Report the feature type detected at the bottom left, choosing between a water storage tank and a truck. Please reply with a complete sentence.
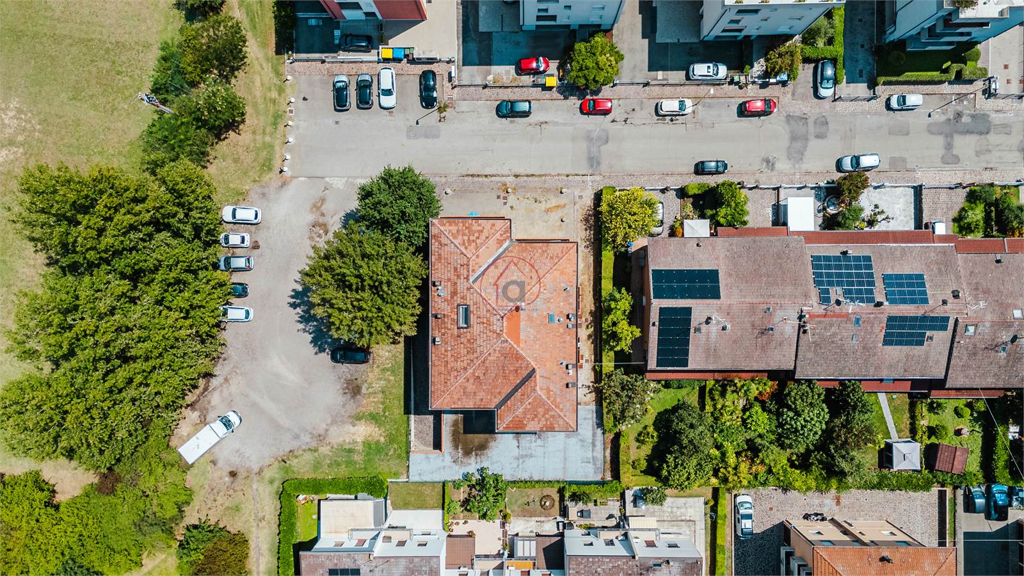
What appears at the bottom left is a truck.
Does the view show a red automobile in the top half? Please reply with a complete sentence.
Yes, in the top half there is a red automobile.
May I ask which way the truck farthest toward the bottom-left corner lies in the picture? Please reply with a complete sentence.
The truck farthest toward the bottom-left corner runs on a diagonal in the image.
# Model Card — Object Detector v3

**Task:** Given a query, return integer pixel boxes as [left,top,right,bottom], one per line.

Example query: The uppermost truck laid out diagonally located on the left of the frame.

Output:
[173,409,243,471]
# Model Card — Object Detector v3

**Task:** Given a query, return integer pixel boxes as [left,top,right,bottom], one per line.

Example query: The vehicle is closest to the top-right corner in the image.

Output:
[886,92,923,110]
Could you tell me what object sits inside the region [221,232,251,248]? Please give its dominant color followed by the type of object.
white car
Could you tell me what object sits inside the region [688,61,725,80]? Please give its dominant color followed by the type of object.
white car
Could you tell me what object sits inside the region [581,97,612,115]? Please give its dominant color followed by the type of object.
red car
